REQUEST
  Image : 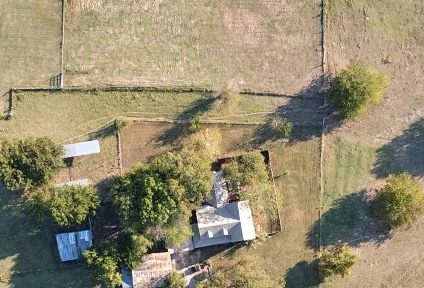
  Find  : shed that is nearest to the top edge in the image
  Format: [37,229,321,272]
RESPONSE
[62,140,101,158]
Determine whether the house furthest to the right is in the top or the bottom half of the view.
bottom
